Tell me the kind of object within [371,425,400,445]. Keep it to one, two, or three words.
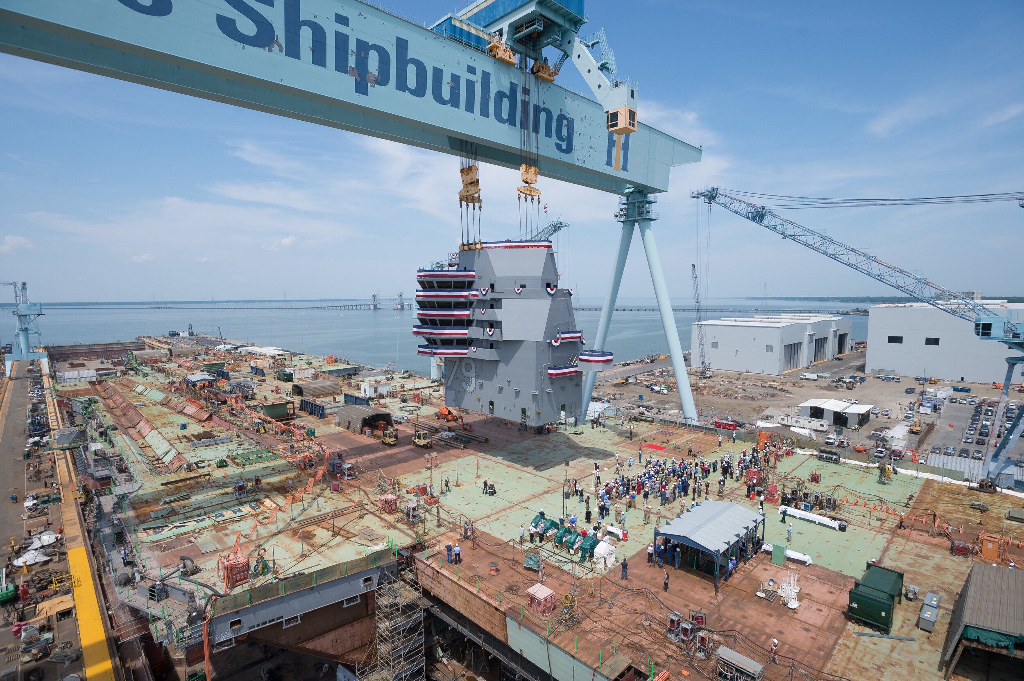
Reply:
work vehicle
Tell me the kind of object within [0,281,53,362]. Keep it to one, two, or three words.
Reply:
crane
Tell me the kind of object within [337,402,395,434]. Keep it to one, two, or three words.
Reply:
shed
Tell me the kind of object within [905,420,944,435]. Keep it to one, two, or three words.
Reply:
work vehicle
